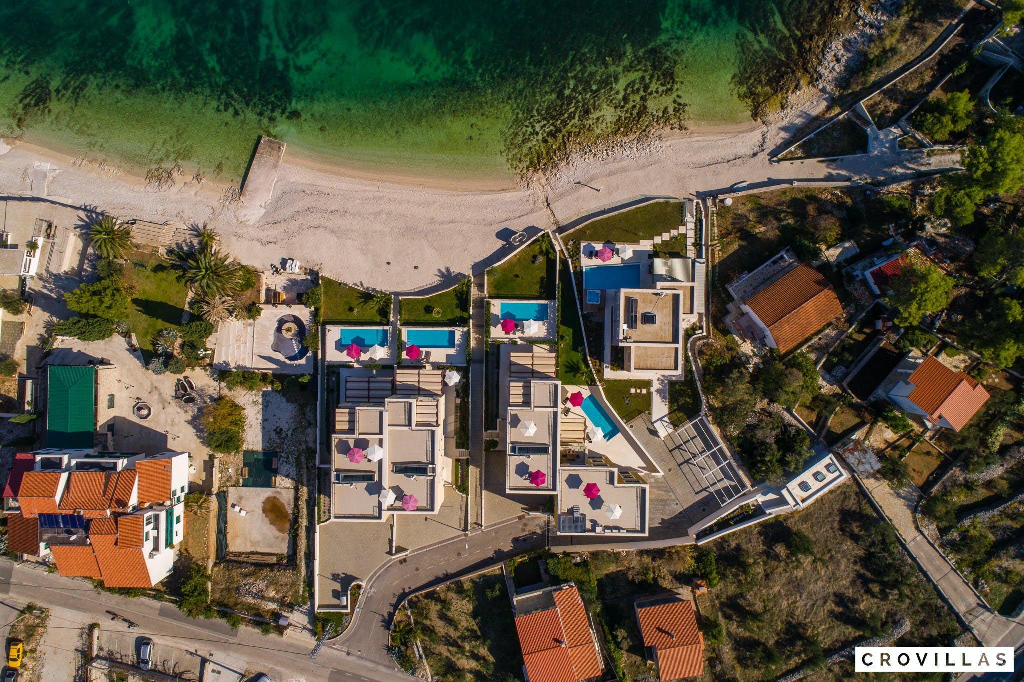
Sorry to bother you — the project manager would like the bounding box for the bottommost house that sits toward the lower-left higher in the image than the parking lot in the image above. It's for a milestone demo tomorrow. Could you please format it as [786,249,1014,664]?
[2,449,191,587]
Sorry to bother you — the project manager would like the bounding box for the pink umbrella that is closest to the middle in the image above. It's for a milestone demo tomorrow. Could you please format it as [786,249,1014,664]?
[501,318,516,335]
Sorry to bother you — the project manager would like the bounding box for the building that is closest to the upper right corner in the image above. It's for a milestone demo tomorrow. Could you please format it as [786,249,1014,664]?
[855,246,947,296]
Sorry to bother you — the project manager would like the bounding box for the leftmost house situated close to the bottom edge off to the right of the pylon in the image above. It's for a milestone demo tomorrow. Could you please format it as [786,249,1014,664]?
[512,576,606,682]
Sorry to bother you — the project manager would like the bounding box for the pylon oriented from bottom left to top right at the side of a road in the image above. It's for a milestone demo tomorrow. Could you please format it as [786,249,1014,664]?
[304,622,335,661]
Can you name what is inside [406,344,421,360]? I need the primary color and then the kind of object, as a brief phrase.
pink umbrella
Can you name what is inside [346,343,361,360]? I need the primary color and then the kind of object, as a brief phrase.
pink umbrella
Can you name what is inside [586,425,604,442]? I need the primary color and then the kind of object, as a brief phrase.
white umbrella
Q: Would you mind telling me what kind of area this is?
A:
residential area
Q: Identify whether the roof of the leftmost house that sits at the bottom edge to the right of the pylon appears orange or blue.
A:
orange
